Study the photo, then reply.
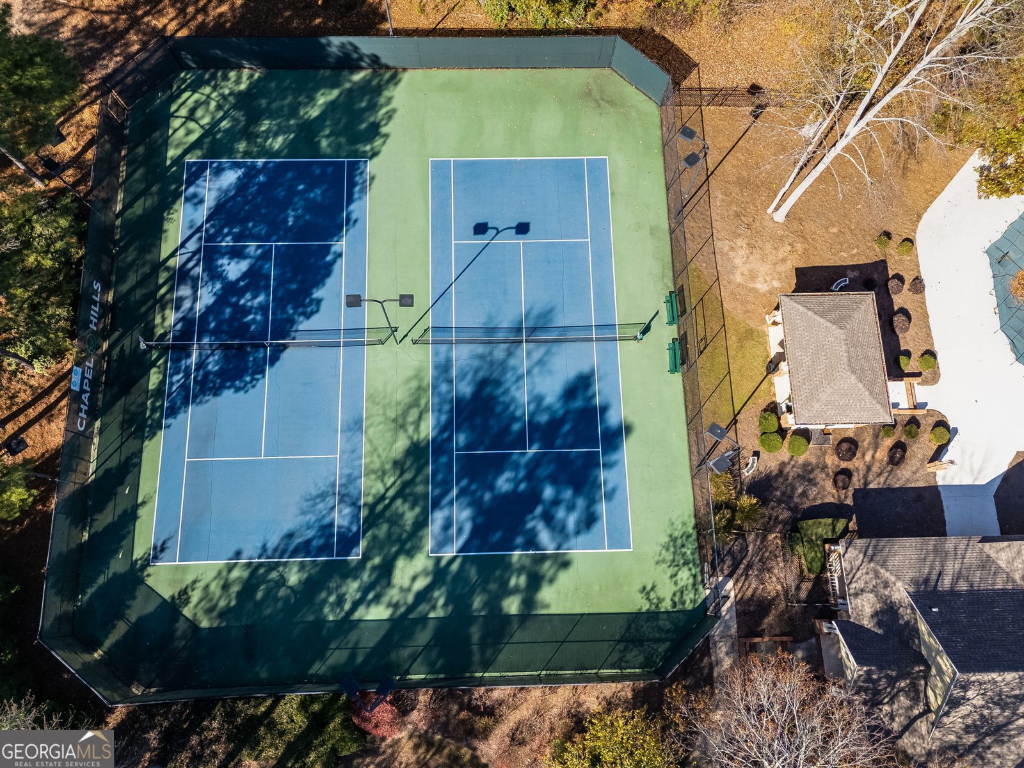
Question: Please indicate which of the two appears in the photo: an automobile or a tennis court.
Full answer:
I can see a tennis court in this picture.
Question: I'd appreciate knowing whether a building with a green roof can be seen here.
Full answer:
No, I find no building with a green roof anywhere in the image.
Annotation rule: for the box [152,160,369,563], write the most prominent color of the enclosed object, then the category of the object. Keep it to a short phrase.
blue tennis court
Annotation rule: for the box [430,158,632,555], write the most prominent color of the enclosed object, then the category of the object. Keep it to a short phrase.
blue tennis court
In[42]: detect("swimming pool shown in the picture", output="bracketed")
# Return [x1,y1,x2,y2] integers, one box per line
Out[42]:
[984,215,1024,363]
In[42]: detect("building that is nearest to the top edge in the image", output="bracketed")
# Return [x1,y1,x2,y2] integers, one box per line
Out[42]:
[764,290,897,432]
